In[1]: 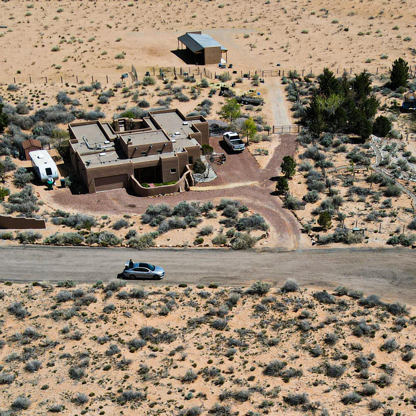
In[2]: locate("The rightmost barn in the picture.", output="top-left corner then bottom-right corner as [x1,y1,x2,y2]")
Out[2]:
[177,28,228,65]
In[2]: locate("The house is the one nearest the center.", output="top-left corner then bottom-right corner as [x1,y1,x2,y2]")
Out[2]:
[69,109,209,195]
